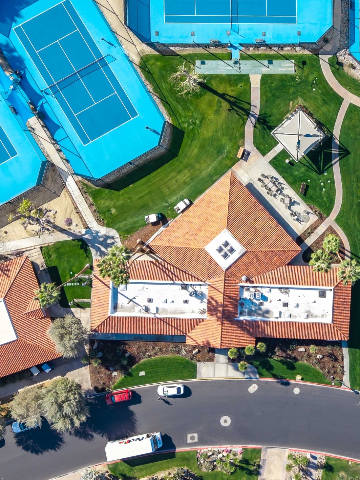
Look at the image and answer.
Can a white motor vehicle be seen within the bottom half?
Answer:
Yes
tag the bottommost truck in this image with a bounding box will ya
[104,435,163,462]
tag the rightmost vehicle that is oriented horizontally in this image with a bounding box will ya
[157,383,185,397]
